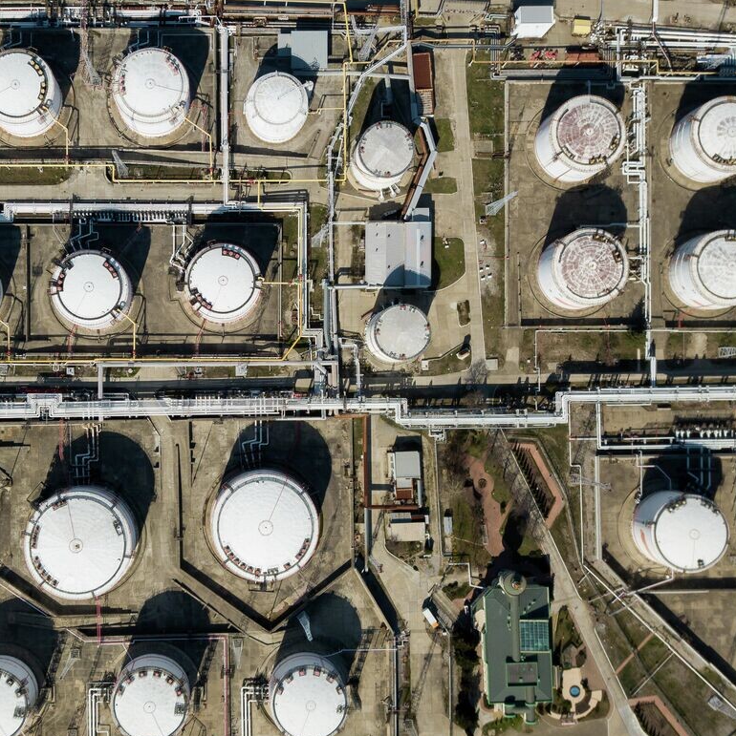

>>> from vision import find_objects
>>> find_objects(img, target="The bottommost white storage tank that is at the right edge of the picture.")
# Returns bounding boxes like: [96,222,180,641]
[625,483,733,574]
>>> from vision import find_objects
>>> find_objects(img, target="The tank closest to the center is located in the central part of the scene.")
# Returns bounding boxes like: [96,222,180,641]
[360,302,432,367]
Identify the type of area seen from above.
industrial area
